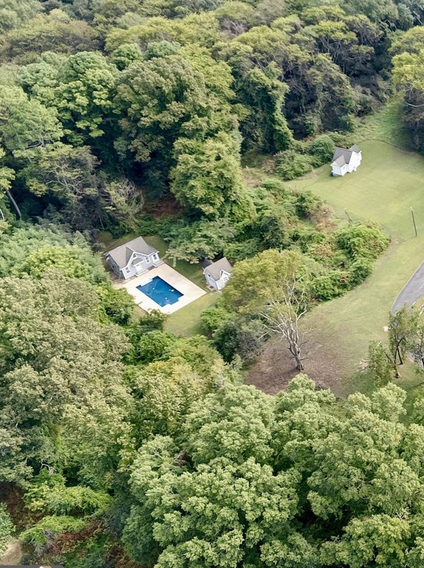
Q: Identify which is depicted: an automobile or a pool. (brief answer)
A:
pool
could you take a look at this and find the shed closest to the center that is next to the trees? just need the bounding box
[202,255,240,291]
